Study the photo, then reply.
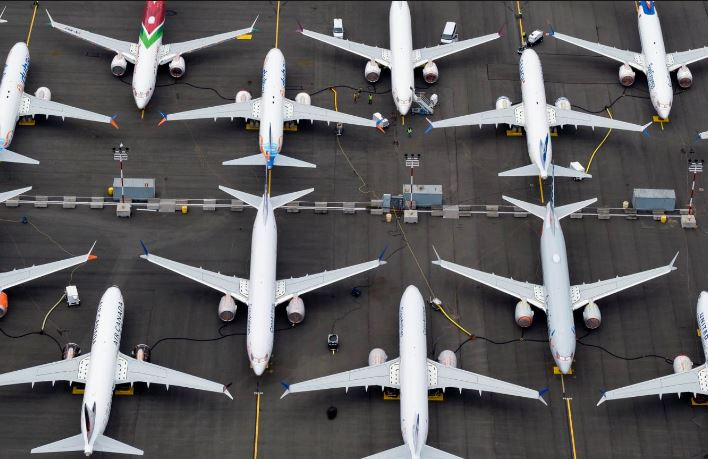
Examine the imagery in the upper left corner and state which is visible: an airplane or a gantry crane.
airplane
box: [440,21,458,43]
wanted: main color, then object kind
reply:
white vehicle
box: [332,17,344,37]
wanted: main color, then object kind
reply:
white vehicle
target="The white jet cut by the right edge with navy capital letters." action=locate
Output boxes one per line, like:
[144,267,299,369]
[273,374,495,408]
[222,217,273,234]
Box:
[597,289,708,410]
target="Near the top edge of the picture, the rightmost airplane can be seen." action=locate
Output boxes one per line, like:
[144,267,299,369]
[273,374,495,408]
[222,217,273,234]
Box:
[546,0,708,118]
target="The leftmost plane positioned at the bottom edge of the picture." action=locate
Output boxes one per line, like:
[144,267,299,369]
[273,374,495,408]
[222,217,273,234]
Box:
[0,285,234,457]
